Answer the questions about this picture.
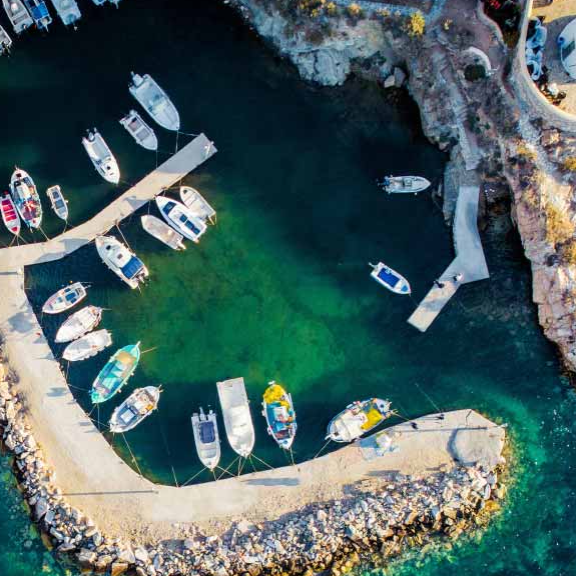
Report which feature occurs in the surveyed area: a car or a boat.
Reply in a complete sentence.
The image shows a boat.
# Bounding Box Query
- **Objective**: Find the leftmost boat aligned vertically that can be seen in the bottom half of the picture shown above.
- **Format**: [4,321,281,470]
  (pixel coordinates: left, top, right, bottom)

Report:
[195,410,220,470]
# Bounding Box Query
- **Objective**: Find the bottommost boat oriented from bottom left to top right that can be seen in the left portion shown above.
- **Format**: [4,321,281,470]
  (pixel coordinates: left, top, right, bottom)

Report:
[109,388,159,431]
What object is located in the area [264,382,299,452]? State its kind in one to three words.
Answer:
boat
